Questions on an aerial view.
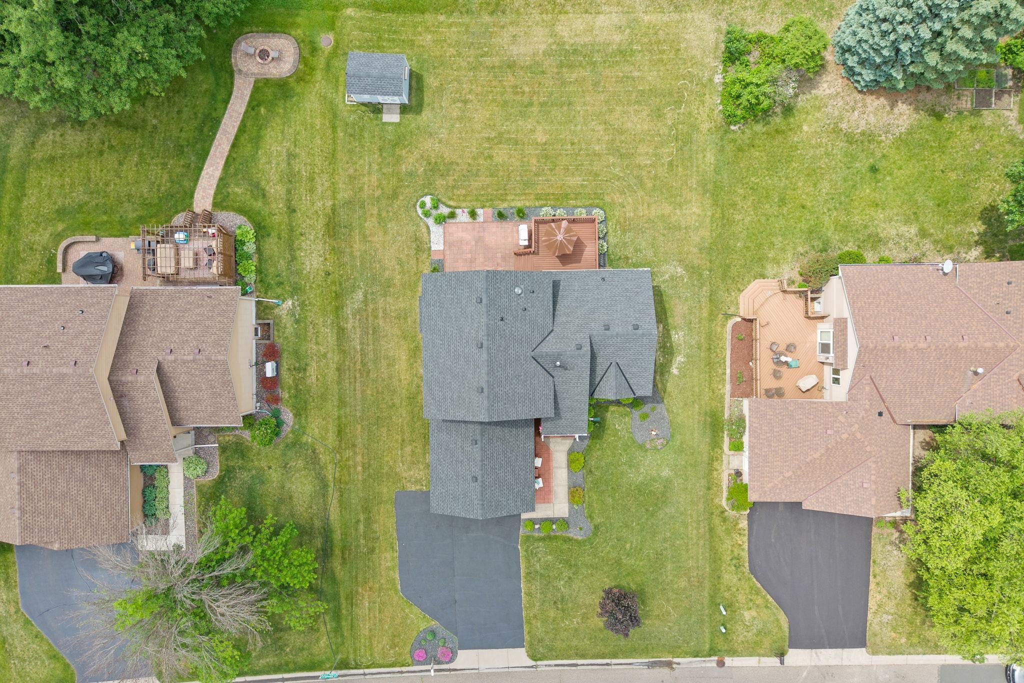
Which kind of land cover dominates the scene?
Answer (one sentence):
Most of the picture is covered by grass.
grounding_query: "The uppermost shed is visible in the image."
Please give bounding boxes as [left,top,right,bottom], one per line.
[345,52,409,104]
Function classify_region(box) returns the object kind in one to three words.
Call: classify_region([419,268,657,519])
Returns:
house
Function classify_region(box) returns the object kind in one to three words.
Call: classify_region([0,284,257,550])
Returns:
house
